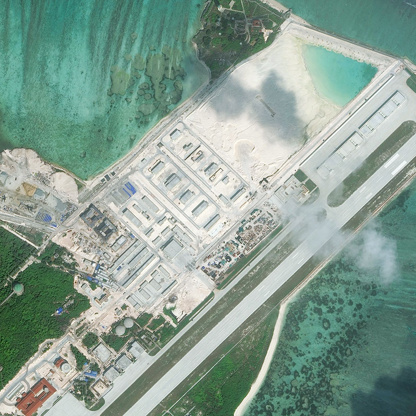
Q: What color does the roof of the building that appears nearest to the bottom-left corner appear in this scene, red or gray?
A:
red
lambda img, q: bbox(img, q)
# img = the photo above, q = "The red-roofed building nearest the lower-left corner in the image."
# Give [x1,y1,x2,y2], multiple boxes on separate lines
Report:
[15,378,57,416]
